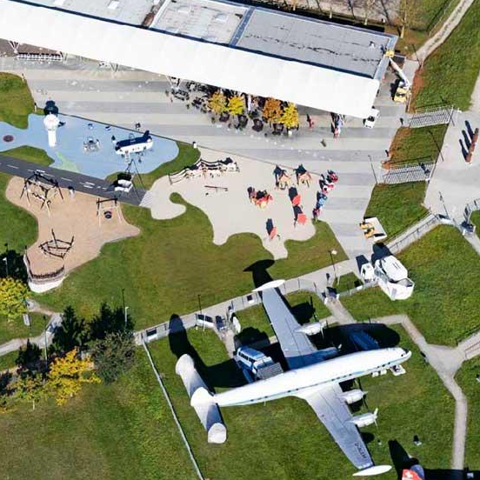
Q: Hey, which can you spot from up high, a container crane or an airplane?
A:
airplane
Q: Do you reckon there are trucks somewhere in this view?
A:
Yes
